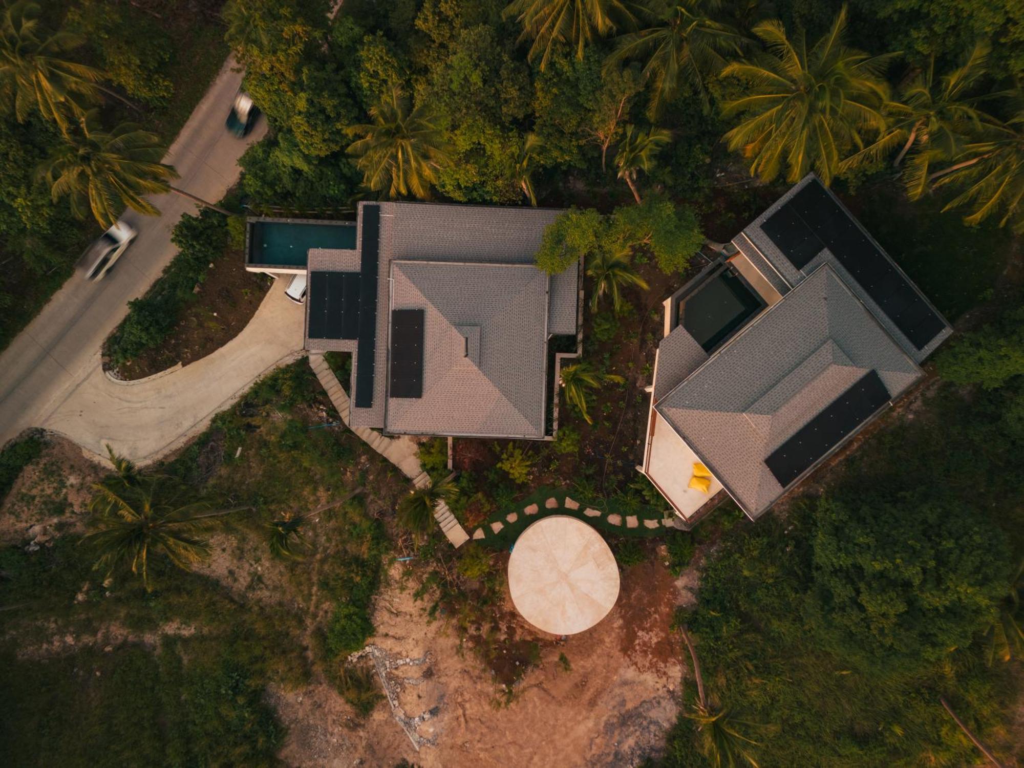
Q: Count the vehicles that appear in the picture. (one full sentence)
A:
The photo contains 3 vehicles.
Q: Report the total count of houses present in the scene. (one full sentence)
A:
My tally gives 2 houses in this view.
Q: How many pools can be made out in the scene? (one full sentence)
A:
The picture shows 2 pools.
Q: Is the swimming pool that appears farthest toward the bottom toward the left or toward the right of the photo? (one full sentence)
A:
It is on the right.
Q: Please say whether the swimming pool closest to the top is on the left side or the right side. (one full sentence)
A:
The swimming pool closest to the top appears in the left half of the scene.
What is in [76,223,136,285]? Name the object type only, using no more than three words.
car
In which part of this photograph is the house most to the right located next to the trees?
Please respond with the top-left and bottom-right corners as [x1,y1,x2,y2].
[636,169,957,528]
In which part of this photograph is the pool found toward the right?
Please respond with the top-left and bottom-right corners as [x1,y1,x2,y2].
[661,258,769,356]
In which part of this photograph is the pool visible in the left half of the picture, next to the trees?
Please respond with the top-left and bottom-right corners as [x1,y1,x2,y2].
[246,218,357,286]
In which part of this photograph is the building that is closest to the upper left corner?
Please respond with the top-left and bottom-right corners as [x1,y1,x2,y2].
[303,199,586,444]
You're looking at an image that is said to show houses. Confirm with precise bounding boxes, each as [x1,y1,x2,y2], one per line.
[636,169,957,528]
[303,199,586,444]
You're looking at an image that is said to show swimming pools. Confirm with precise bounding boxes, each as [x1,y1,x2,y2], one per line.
[246,218,357,286]
[661,258,769,356]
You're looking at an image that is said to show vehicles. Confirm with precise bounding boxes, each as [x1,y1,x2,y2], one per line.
[279,274,308,310]
[223,87,265,145]
[76,223,136,285]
